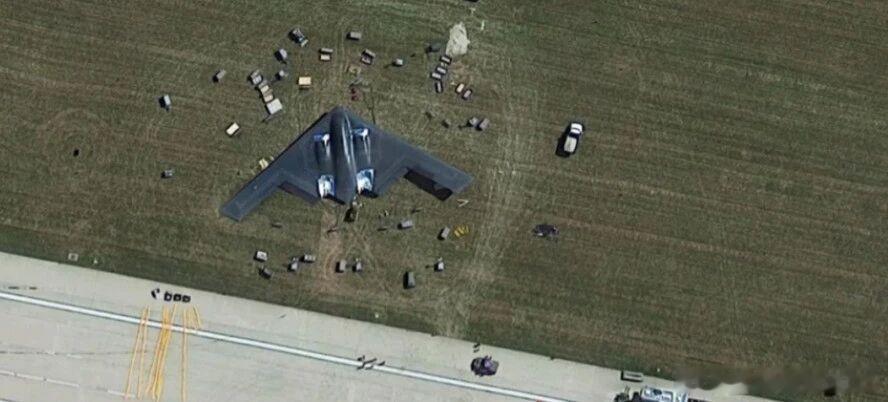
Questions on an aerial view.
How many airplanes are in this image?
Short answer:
1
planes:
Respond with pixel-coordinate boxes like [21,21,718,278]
[221,108,474,219]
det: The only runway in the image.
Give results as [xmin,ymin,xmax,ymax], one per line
[0,253,781,402]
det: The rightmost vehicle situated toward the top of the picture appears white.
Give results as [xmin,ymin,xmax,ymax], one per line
[562,121,582,154]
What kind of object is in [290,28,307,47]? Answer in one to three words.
work vehicle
